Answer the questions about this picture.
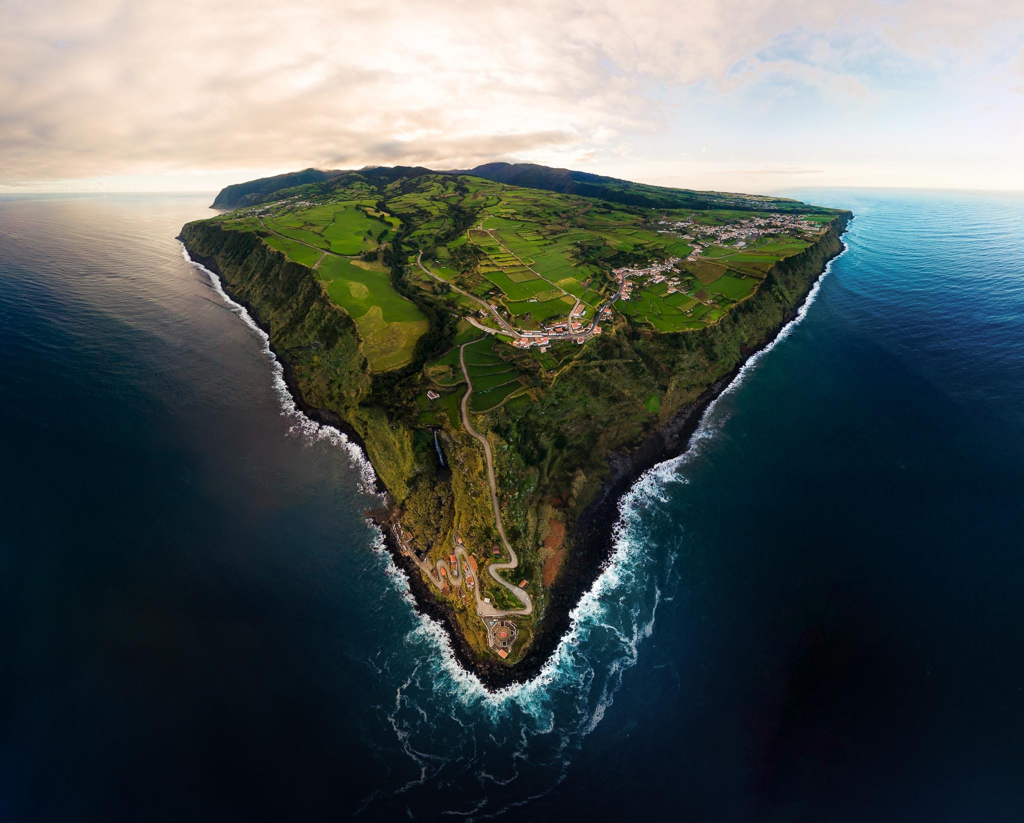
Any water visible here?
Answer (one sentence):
Yes, some water is visible.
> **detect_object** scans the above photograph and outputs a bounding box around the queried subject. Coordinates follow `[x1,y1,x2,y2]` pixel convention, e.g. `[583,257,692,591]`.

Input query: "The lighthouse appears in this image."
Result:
[489,619,518,650]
